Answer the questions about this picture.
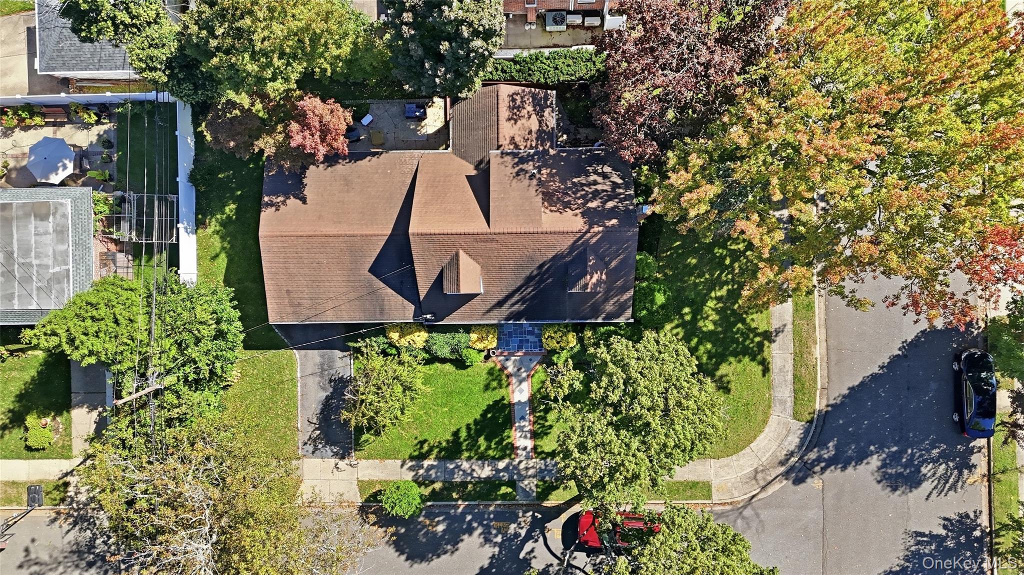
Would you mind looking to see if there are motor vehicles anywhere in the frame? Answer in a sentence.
Yes, there's a motor vehicle here.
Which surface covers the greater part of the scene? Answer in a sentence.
The largest share of the image is taken up by trees.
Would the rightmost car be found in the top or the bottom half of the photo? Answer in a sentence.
The rightmost car is in the bottom half of the image.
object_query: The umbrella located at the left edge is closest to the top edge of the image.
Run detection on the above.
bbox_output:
[29,135,88,187]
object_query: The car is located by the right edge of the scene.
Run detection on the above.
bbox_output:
[950,349,996,439]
